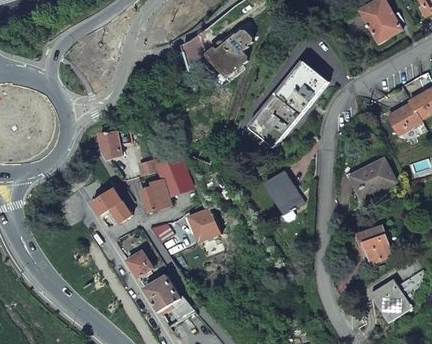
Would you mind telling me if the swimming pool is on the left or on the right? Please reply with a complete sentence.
You can find the swimming pool on the right side of the picture.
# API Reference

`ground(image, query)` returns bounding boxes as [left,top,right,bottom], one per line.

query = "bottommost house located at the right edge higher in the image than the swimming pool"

[388,88,432,144]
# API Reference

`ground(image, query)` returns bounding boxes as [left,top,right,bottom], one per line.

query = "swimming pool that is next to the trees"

[410,158,432,178]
